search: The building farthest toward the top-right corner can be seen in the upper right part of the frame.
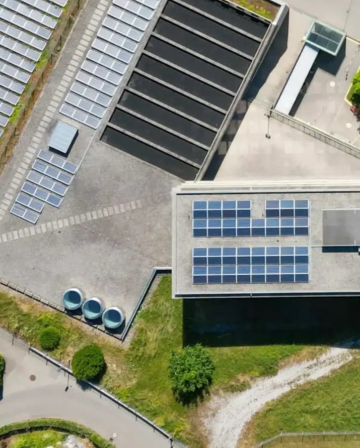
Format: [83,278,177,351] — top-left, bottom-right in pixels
[302,20,348,58]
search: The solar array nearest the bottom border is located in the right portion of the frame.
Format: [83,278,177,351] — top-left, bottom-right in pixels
[191,246,307,283]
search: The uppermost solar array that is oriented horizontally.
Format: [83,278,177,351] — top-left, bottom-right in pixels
[191,199,308,237]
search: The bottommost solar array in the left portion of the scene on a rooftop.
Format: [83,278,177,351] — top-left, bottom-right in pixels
[8,150,78,223]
